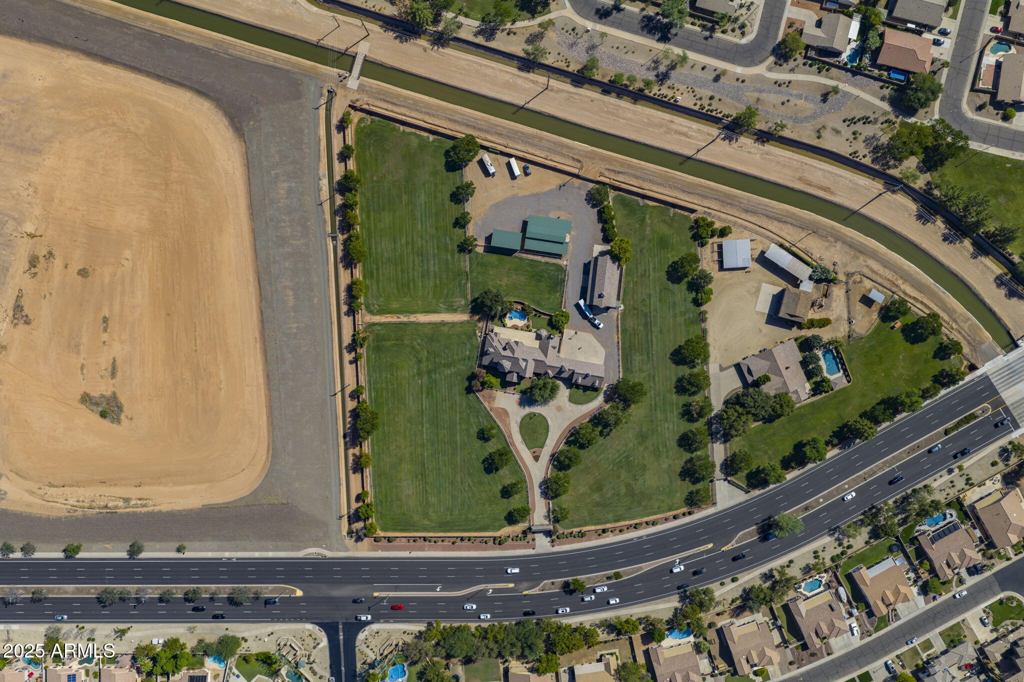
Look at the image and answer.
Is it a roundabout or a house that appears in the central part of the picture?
house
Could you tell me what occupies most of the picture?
paved ground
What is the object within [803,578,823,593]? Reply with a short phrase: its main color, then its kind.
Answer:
blue swimming pool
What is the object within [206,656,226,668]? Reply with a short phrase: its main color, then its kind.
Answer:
blue swimming pool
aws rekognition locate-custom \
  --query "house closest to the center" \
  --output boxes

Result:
[481,329,605,386]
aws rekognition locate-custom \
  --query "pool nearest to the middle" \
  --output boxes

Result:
[507,309,527,322]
